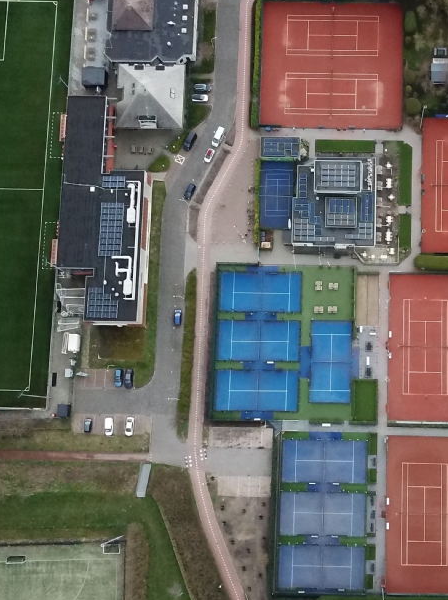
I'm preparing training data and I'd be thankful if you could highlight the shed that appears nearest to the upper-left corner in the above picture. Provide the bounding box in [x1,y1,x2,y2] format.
[83,67,109,90]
